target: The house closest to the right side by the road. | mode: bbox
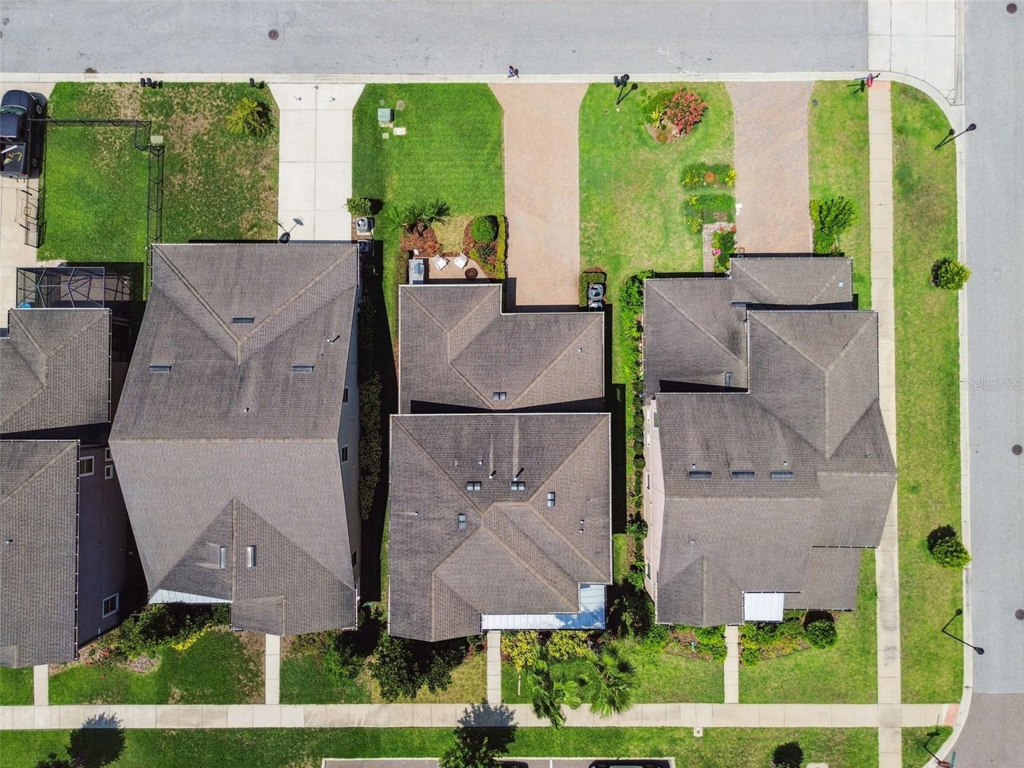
[642,256,897,629]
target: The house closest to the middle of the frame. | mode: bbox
[386,283,612,641]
